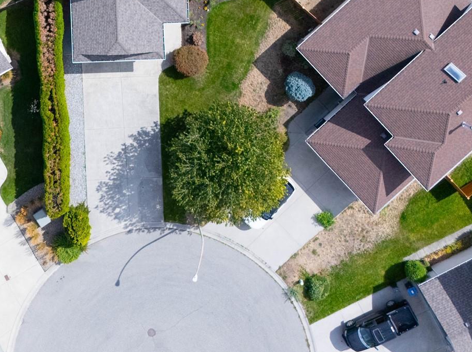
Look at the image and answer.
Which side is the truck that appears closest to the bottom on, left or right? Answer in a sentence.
The truck that appears closest to the bottom sits on the right side.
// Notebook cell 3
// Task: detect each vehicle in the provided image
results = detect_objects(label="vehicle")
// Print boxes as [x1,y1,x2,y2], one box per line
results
[243,177,298,235]
[340,298,421,352]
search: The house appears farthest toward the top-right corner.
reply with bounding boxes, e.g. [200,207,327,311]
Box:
[294,0,472,215]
